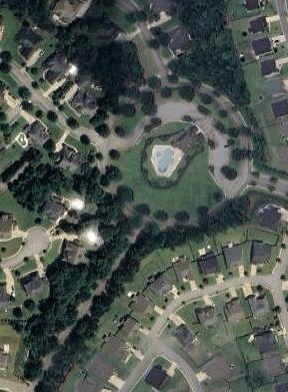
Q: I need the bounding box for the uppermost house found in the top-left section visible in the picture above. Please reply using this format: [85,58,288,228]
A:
[51,0,79,21]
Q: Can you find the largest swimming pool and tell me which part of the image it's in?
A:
center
